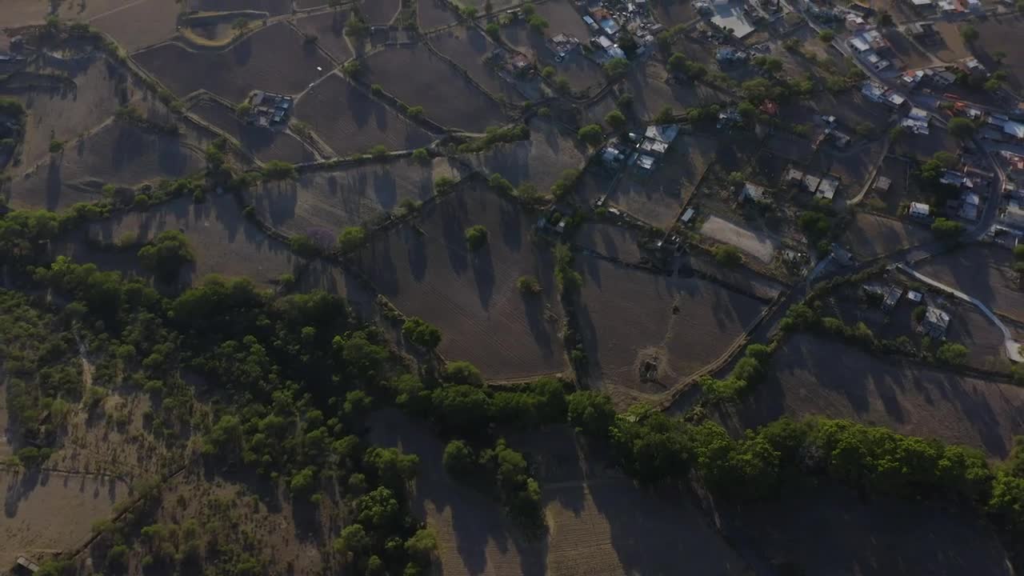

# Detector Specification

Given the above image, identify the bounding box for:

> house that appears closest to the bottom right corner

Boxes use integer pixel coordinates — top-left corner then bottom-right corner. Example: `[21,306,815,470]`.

[918,307,950,337]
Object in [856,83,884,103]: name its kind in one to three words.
house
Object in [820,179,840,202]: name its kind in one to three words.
house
